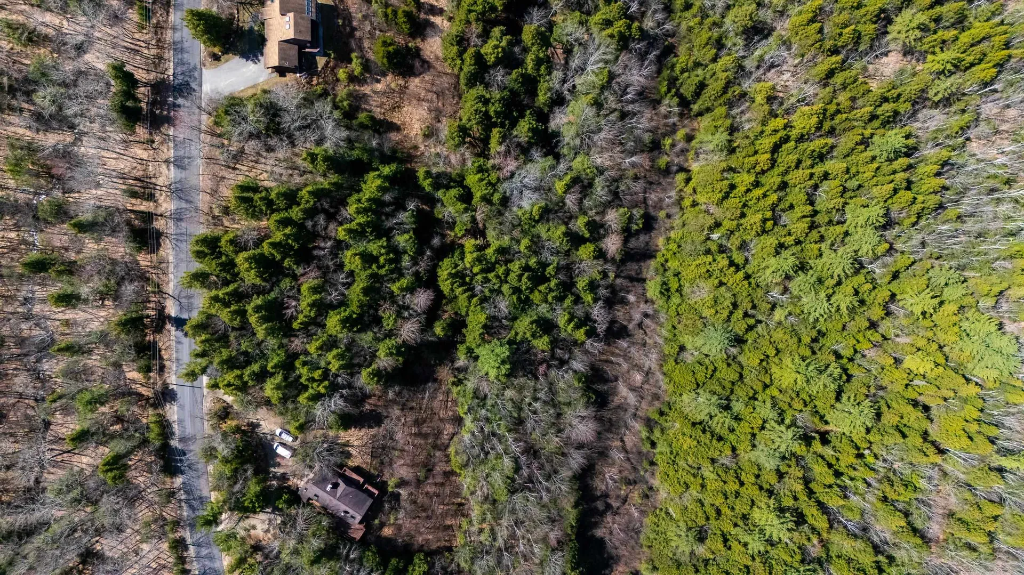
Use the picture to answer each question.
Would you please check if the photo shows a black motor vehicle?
No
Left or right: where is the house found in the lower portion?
left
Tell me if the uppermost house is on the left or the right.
left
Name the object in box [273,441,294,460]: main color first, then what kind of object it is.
white vehicle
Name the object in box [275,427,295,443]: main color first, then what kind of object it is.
white car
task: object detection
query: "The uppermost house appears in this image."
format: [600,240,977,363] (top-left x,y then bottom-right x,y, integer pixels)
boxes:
[260,0,325,75]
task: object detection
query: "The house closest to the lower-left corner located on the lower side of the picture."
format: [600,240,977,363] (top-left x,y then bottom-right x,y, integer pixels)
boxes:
[299,466,380,541]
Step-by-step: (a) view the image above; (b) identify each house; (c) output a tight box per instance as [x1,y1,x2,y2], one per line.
[260,0,325,75]
[299,466,380,541]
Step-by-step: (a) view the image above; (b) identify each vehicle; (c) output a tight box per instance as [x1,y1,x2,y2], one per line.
[273,441,294,460]
[275,427,295,443]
